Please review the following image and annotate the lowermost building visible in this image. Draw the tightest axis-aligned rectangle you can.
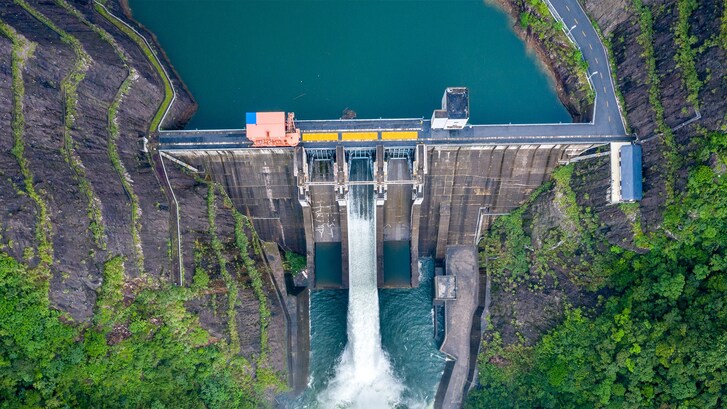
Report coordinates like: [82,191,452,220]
[430,275,457,302]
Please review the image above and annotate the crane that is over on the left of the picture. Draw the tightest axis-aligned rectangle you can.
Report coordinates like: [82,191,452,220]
[241,111,301,148]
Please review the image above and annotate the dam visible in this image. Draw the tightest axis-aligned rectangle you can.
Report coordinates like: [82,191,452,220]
[160,116,601,291]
